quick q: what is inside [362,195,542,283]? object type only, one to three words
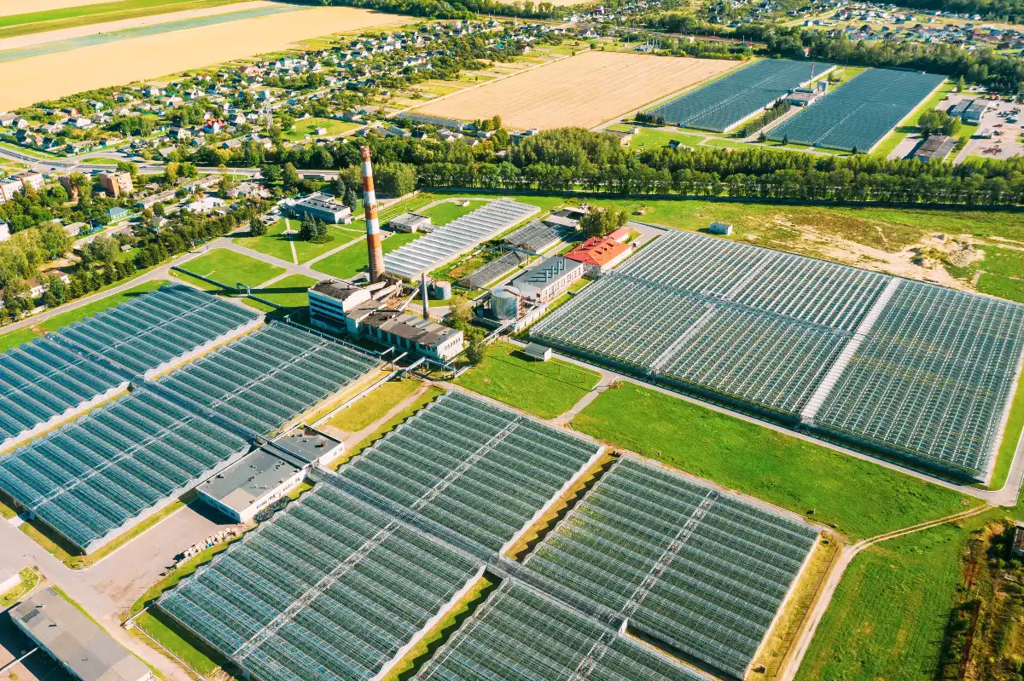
greenhouse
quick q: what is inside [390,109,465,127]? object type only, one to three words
shed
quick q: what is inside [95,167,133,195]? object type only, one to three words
building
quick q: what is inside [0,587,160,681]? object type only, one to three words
building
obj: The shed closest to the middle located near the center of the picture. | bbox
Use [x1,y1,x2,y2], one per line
[522,345,550,364]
